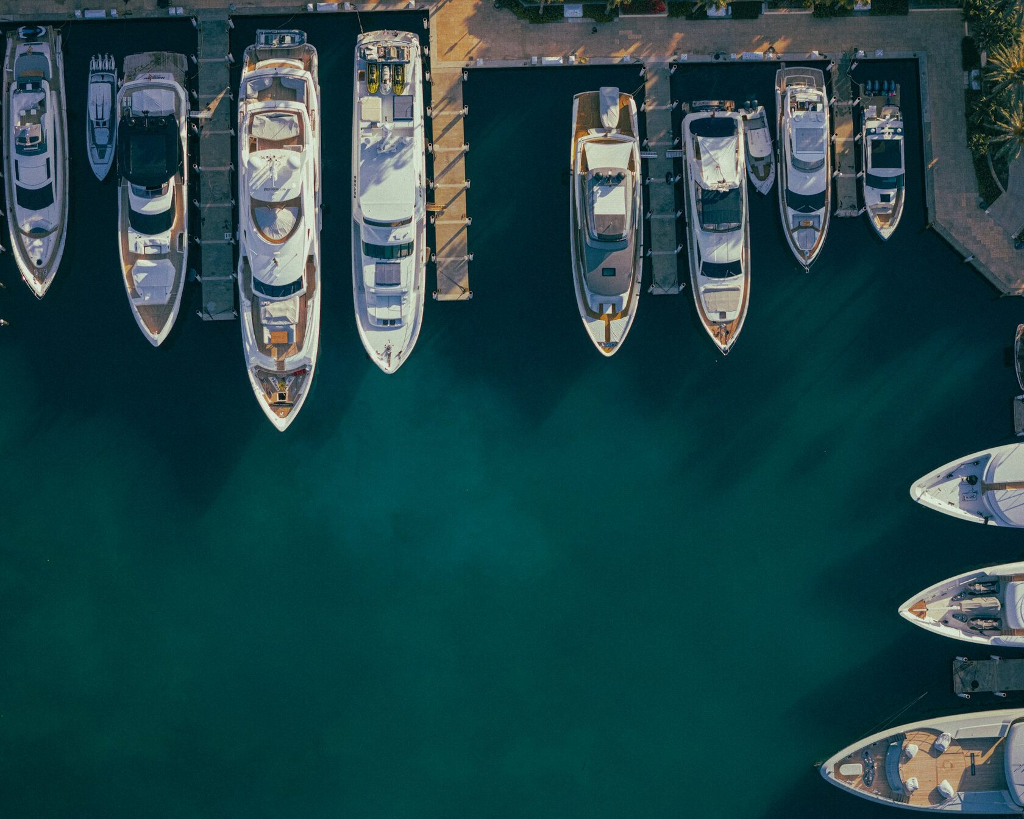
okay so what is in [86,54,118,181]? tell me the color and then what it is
blue boat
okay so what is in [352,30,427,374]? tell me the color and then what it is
white boat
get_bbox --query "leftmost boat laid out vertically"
[3,26,70,298]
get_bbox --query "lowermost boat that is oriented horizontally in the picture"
[815,708,1024,814]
